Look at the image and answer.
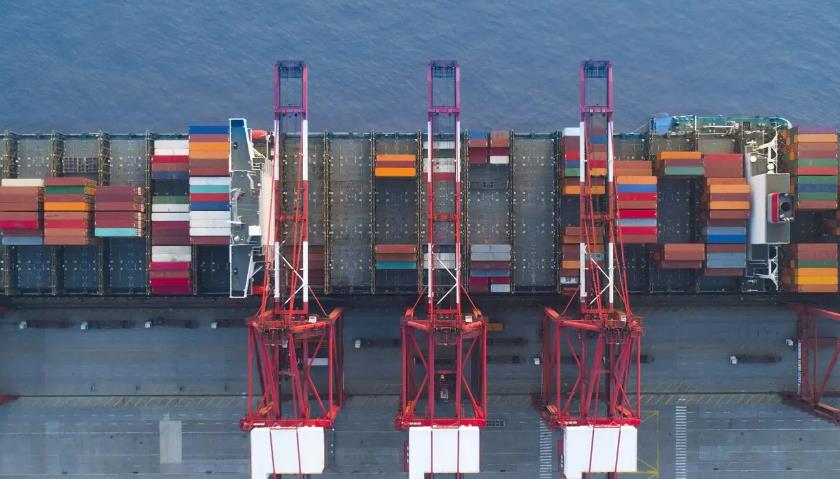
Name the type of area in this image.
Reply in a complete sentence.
The area seen from above is a port.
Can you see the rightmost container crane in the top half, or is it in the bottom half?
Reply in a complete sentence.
It is in the bottom half that the rightmost container crane appears.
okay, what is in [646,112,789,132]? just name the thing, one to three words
ship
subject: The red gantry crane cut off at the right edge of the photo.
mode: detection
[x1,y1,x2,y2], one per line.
[781,305,840,422]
